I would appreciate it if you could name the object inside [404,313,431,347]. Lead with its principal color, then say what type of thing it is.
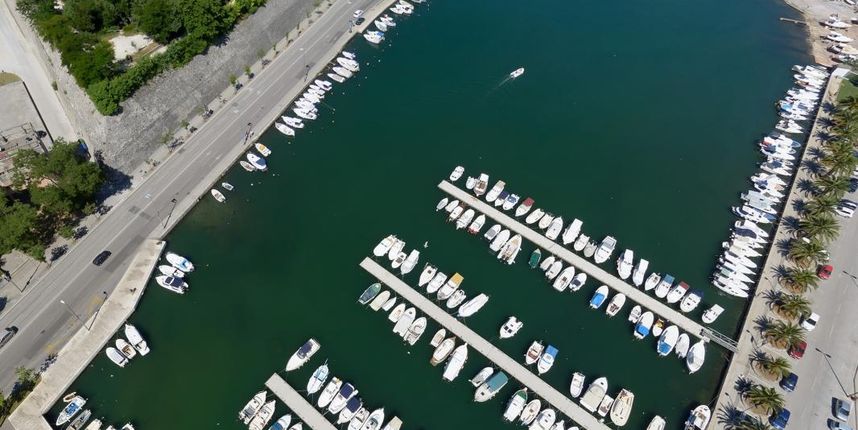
white boat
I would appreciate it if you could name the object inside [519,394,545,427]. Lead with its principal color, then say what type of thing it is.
white boat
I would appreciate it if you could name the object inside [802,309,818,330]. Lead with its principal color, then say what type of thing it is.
white car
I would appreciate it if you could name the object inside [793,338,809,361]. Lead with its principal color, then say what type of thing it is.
red car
